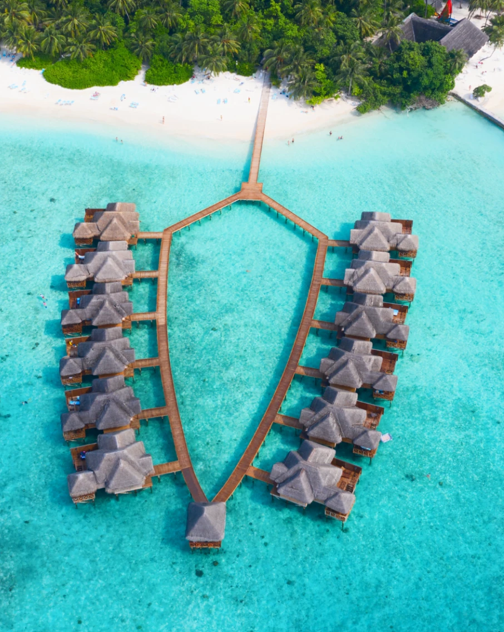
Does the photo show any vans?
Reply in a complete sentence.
No, there appears to be no van in this shot.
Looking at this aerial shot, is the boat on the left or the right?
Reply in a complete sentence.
The boat sits on the right side.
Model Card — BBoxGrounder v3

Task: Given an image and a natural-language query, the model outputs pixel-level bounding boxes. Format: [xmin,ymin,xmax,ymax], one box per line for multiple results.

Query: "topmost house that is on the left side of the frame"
[72,201,141,257]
